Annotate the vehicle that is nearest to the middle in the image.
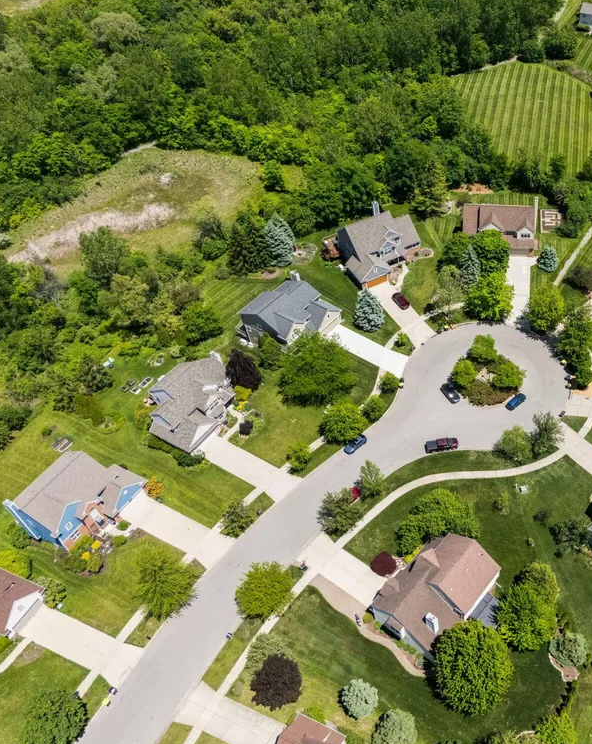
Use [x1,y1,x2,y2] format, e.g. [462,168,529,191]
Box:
[342,432,369,455]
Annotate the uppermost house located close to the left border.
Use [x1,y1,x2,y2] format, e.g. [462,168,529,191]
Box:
[0,452,146,547]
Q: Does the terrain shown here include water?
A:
No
